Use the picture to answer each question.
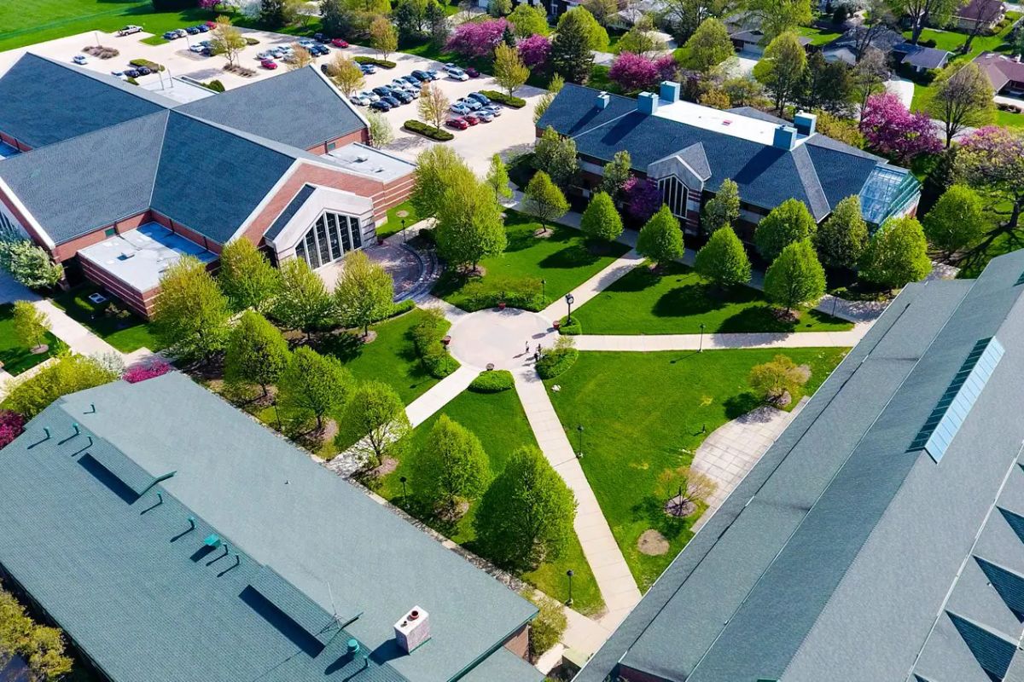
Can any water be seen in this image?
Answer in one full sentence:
No, the picture contains no water.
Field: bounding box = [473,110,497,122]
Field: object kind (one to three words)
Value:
vehicle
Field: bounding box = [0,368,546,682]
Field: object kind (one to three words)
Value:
building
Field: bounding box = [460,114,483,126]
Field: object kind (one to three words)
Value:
vehicle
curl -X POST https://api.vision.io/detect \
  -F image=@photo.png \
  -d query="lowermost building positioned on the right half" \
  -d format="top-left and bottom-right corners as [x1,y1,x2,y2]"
[568,257,1024,682]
